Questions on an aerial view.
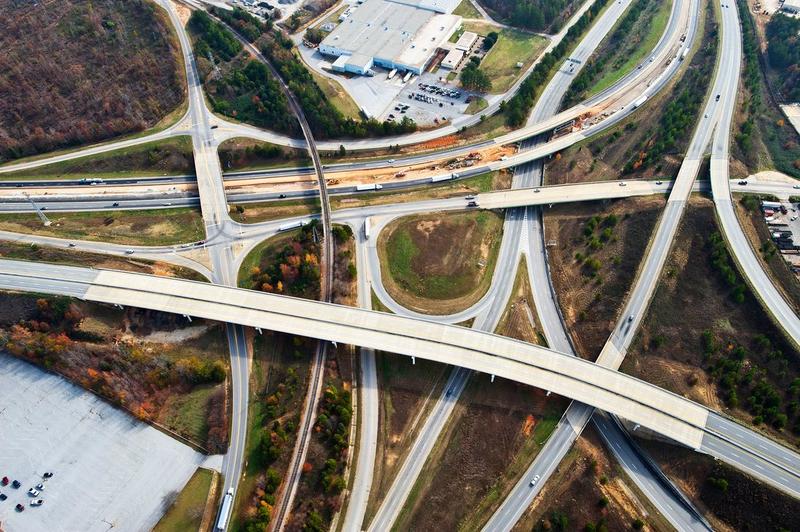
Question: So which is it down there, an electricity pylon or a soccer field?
electricity pylon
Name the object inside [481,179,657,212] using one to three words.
bridge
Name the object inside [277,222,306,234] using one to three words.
vehicle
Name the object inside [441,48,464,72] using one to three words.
building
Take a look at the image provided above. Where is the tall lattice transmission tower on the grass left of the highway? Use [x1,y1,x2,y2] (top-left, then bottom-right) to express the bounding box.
[20,184,53,227]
